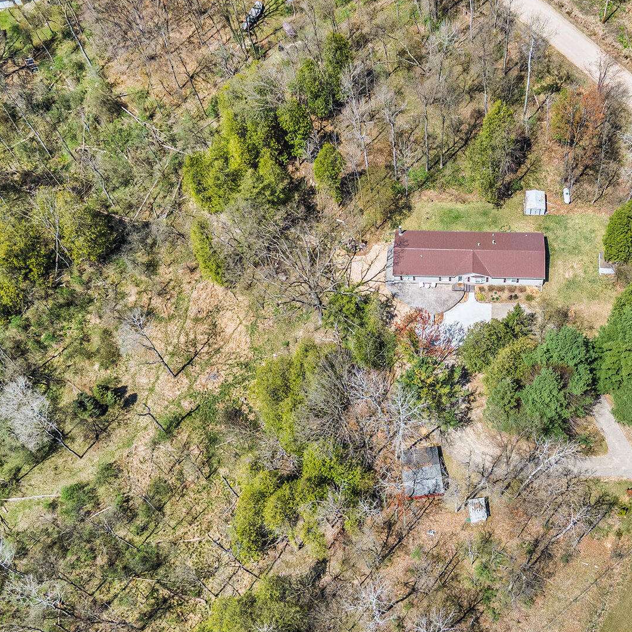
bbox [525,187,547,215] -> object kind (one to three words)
shed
